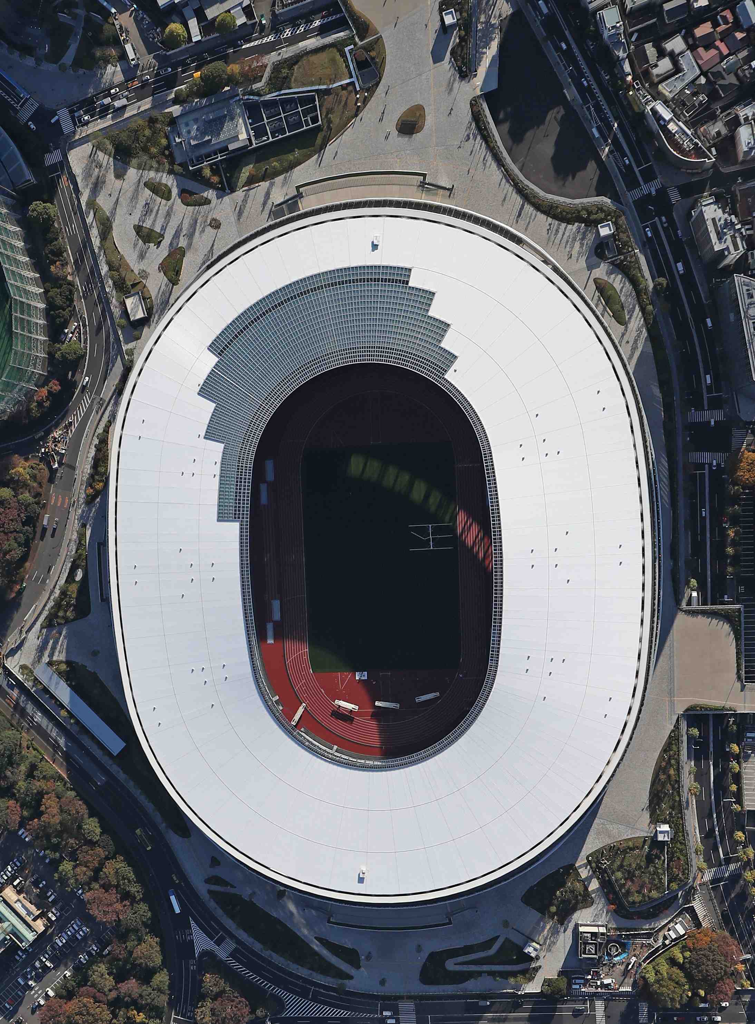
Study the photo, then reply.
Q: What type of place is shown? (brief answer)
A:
sports ground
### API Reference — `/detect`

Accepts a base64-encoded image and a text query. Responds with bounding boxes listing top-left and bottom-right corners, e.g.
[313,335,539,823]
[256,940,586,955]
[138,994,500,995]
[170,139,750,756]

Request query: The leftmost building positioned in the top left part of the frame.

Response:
[0,125,42,195]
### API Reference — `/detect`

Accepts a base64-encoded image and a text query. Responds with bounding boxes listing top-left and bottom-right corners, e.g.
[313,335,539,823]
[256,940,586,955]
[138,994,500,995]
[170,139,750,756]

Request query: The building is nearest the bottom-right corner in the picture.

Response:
[663,915,690,939]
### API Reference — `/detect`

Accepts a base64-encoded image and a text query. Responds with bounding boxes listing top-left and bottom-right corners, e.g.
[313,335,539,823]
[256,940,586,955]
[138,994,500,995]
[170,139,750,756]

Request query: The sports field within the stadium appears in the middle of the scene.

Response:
[301,442,459,673]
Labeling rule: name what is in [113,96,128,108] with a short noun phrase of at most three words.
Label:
vehicle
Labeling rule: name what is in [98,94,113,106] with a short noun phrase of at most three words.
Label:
vehicle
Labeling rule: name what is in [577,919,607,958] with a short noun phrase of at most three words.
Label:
building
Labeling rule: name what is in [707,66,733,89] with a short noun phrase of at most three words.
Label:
house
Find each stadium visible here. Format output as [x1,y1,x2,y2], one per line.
[106,198,664,909]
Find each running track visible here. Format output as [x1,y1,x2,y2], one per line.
[251,366,490,758]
